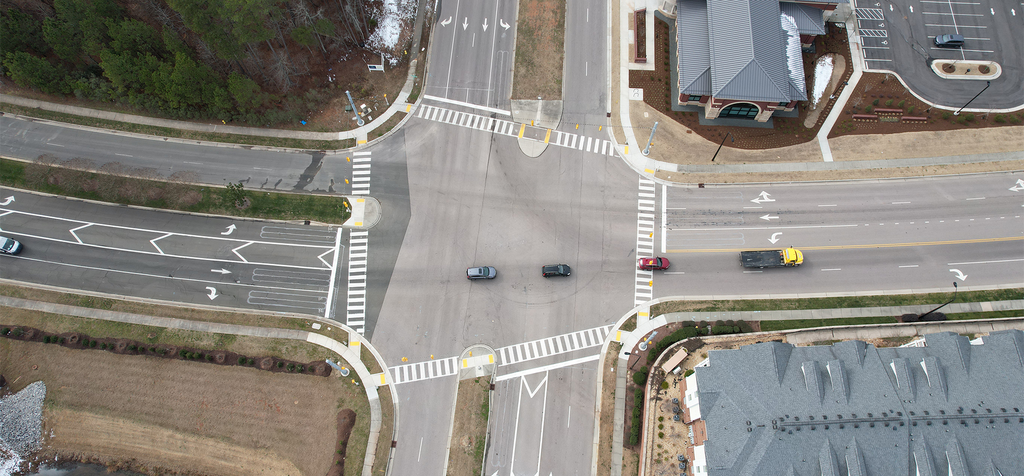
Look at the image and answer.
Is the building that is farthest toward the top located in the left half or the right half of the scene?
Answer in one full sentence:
You can find the building that is farthest toward the top on the right side of the picture.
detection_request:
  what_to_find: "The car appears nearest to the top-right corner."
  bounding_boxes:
[934,32,966,47]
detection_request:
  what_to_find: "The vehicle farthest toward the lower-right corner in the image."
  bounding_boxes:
[731,246,808,269]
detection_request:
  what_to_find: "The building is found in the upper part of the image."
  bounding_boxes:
[676,0,852,120]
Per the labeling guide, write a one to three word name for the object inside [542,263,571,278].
car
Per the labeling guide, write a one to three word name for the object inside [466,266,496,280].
car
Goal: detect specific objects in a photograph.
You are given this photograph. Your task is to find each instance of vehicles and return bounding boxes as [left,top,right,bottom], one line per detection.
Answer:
[0,236,22,254]
[638,256,669,271]
[731,246,808,269]
[934,32,966,47]
[542,263,571,278]
[466,266,496,280]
